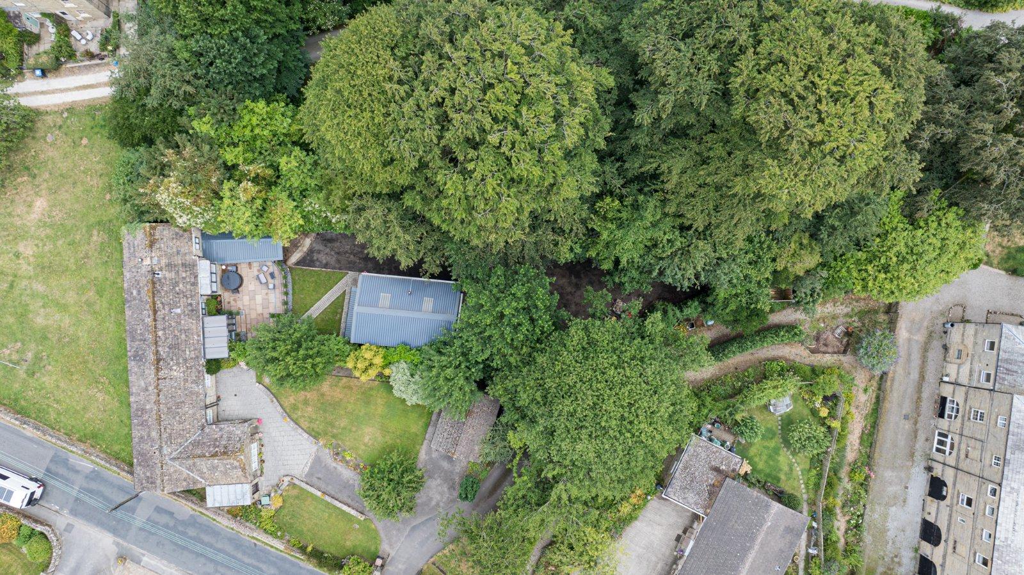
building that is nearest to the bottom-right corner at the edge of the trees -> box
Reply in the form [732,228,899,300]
[918,324,1024,575]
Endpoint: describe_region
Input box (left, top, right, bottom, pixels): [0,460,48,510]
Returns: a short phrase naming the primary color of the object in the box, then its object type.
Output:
white van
